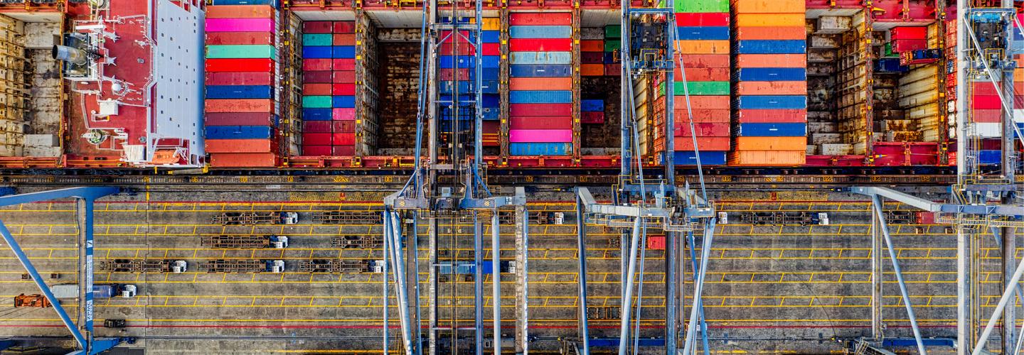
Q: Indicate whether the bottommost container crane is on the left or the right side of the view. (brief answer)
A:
left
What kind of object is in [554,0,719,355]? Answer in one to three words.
container crane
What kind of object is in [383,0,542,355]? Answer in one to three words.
container crane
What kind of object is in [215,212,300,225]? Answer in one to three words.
vehicle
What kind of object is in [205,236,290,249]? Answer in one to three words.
vehicle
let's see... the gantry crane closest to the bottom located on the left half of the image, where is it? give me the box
[0,185,145,355]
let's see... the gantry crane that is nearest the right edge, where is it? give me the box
[831,0,1024,355]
